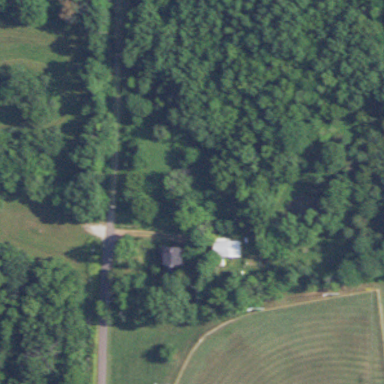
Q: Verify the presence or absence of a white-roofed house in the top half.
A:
No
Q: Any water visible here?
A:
No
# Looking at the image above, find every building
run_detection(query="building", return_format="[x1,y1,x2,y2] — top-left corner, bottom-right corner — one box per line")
[163,248,185,268]
[214,239,242,258]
